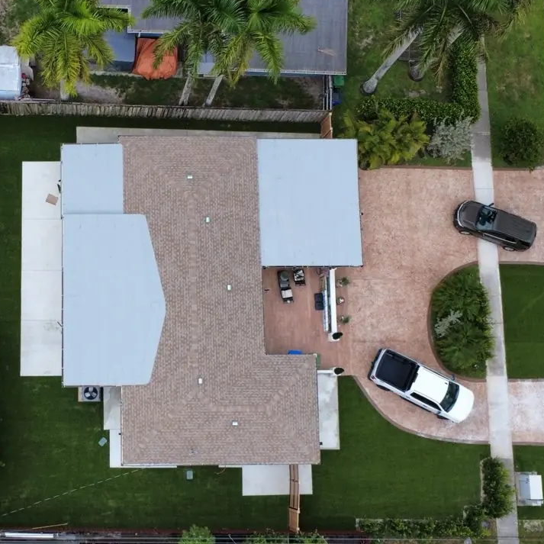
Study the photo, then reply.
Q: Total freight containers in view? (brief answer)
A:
zero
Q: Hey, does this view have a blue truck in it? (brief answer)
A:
No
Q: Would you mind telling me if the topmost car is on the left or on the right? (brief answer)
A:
right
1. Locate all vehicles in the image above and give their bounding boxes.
[366,345,474,425]
[452,196,543,254]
